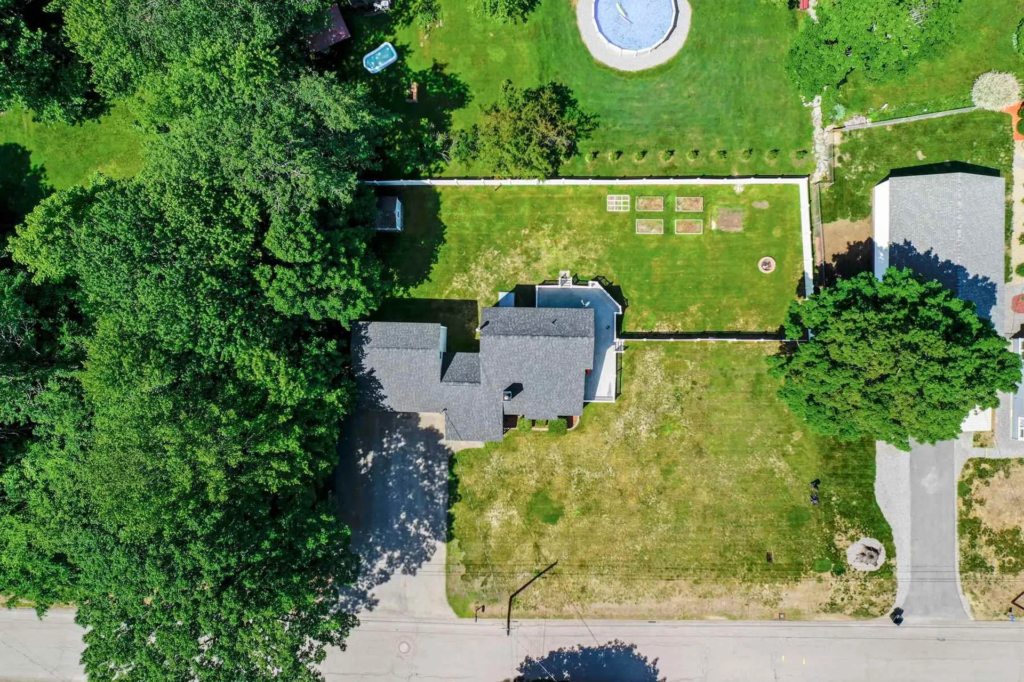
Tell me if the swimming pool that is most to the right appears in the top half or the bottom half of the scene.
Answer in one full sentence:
Seen from above, the swimming pool that is most to the right lies in the top half of the view.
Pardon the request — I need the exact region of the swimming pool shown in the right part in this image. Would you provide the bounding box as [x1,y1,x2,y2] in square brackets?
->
[592,0,677,57]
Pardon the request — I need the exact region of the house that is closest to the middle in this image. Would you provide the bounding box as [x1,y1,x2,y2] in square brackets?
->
[352,297,595,441]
